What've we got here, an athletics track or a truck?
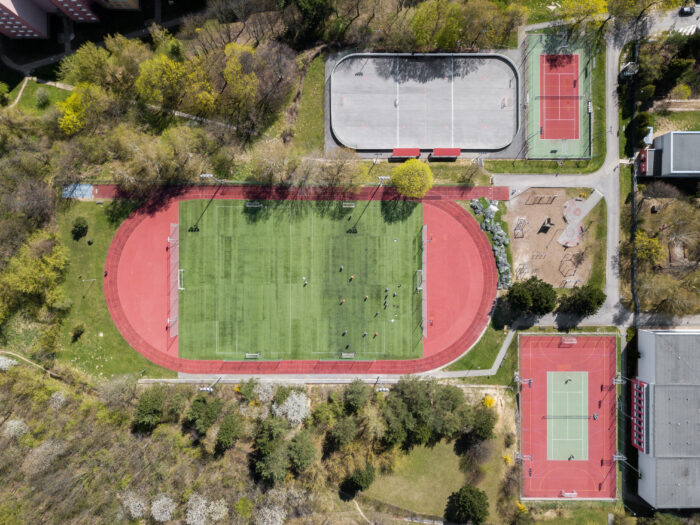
athletics track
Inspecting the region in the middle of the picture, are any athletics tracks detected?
Yes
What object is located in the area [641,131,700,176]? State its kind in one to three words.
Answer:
building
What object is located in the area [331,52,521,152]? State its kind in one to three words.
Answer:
sports court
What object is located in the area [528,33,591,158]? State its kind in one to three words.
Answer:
tennis court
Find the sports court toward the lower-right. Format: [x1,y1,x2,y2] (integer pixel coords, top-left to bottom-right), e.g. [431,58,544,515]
[517,334,618,501]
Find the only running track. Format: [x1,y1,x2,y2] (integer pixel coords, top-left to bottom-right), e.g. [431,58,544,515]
[93,184,509,376]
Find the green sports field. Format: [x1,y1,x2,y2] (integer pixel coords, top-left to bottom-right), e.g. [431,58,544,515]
[178,200,423,360]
